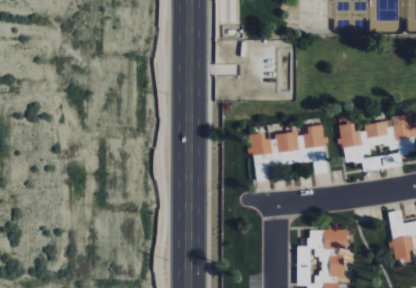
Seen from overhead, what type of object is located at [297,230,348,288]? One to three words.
house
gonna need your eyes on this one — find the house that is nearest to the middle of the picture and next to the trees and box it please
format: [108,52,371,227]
[247,124,328,182]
